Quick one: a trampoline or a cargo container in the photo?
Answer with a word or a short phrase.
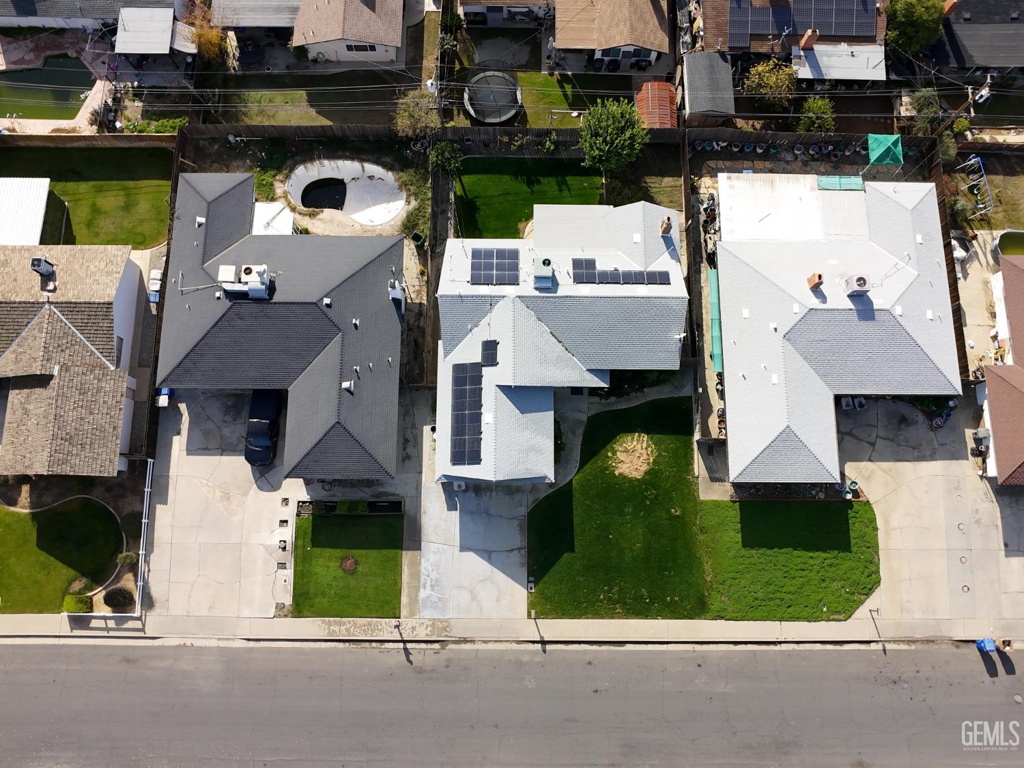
trampoline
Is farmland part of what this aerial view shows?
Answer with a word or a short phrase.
No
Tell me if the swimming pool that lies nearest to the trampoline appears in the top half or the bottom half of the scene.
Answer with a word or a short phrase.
top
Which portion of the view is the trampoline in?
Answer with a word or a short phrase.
top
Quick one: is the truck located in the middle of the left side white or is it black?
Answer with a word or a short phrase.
black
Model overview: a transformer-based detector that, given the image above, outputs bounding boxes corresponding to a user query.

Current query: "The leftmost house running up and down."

[0,178,139,477]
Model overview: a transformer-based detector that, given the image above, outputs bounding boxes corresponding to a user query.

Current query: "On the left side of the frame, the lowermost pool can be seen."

[286,152,407,226]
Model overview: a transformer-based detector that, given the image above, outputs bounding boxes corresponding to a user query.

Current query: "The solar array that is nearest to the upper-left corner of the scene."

[470,248,520,283]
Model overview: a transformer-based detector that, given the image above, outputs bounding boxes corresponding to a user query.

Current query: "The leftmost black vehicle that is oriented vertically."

[238,389,280,473]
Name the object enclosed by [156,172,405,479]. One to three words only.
house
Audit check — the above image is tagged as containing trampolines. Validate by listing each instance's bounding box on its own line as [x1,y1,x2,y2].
[465,61,520,125]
